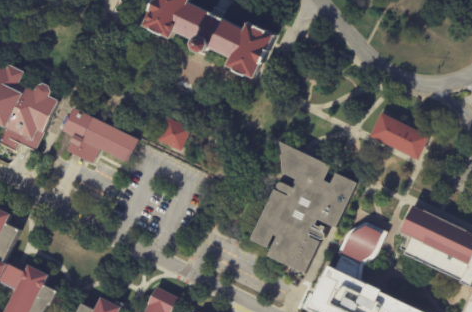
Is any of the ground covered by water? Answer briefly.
No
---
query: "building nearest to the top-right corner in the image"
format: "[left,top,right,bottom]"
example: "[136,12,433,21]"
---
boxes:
[370,110,431,162]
